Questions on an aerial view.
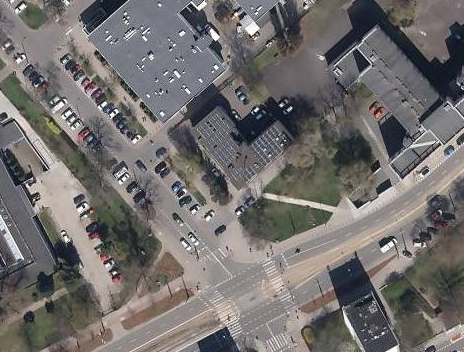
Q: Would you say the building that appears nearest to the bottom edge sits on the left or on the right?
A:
right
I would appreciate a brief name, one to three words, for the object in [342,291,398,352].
building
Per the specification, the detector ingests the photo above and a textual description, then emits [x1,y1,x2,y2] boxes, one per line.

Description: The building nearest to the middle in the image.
[193,106,294,195]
